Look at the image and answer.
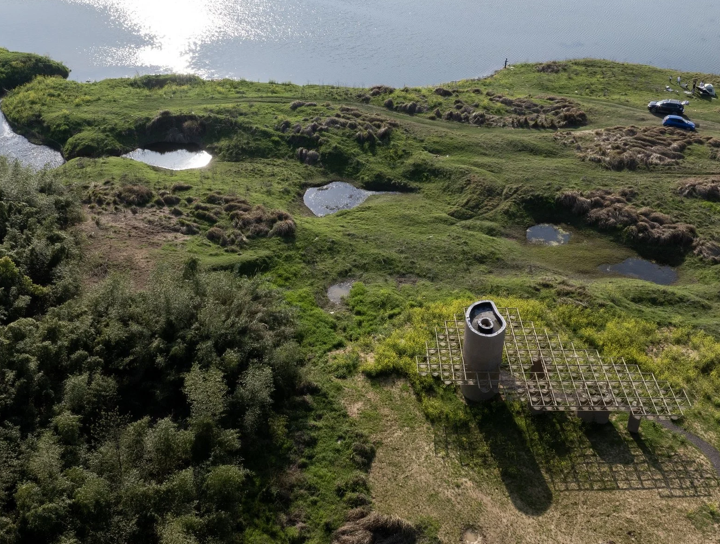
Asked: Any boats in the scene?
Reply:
No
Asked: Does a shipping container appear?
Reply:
No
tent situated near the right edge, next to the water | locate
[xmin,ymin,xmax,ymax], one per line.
[689,82,718,97]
